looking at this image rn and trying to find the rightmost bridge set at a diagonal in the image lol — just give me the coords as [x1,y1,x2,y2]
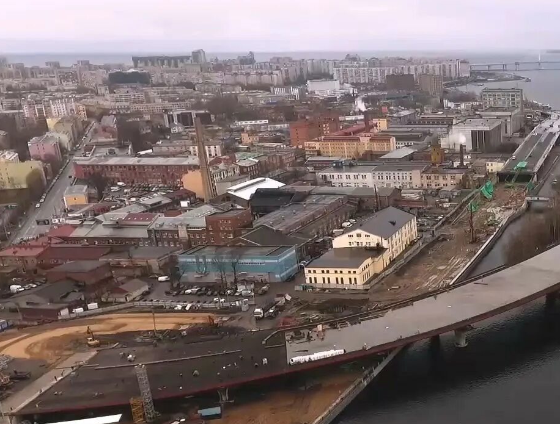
[497,111,560,182]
